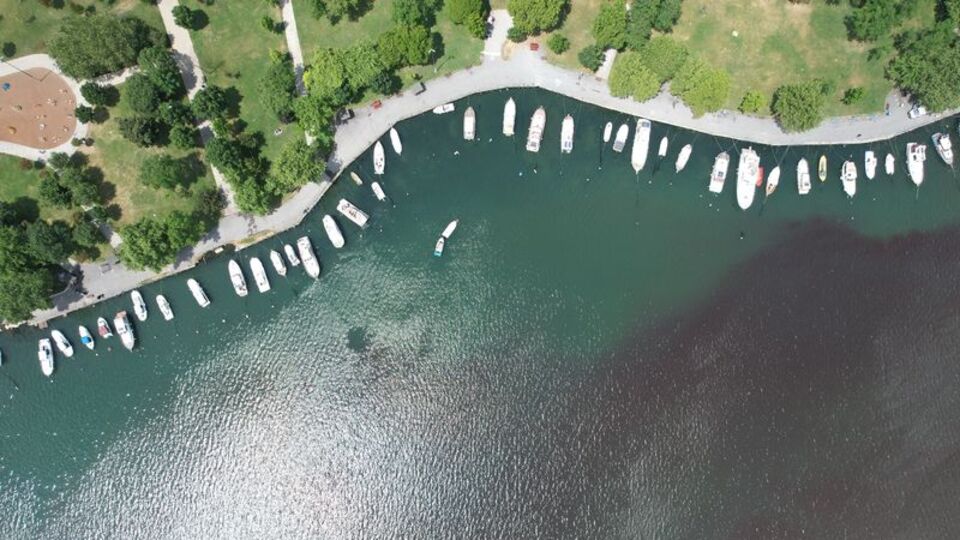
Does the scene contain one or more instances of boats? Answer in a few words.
Yes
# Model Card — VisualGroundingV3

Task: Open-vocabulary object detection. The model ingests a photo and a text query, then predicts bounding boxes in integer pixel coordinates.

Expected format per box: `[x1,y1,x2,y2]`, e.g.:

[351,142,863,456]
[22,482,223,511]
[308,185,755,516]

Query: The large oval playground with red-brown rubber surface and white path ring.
[0,53,89,165]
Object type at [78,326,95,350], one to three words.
boat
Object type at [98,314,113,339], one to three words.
boat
